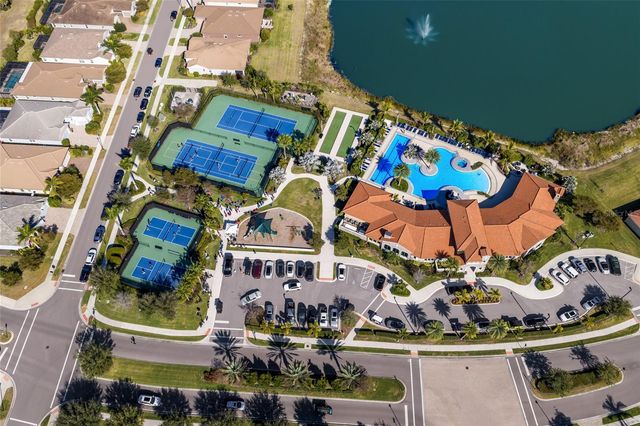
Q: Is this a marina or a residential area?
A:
residential area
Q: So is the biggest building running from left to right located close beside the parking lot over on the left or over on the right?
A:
right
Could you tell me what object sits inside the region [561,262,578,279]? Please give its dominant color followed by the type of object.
white car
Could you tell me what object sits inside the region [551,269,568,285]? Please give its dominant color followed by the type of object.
white car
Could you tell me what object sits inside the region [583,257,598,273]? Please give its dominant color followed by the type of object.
black car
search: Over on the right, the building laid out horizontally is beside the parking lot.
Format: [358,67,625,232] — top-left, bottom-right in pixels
[342,172,565,268]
